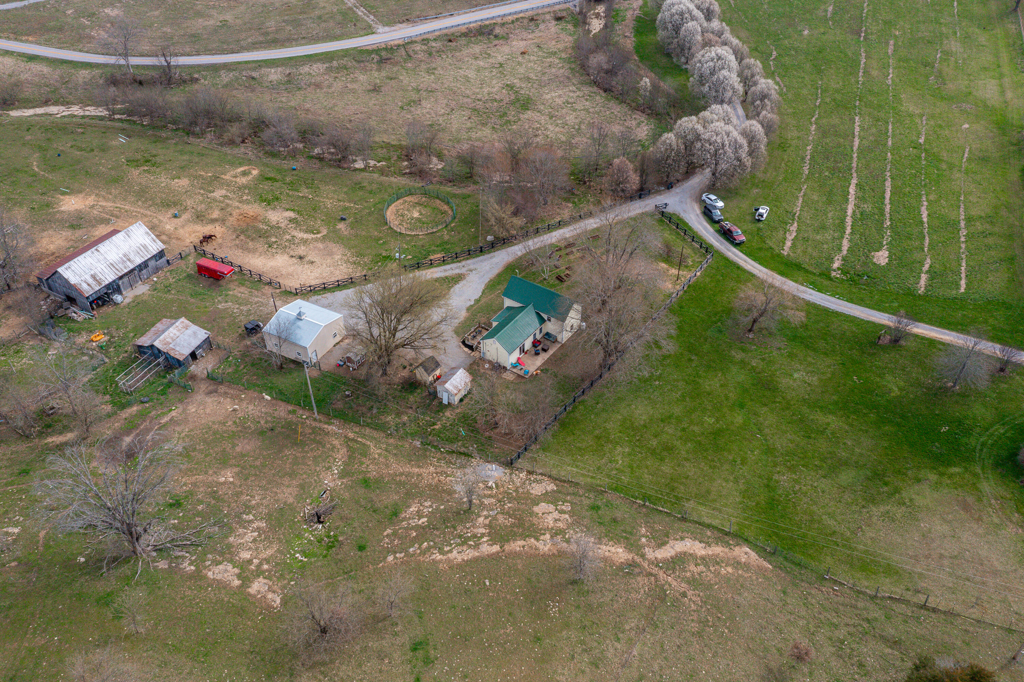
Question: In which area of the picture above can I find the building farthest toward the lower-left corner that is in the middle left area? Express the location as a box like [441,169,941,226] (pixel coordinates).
[132,317,212,370]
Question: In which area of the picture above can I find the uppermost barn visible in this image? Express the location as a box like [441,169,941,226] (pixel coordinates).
[33,221,169,313]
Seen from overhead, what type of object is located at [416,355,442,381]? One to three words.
shed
